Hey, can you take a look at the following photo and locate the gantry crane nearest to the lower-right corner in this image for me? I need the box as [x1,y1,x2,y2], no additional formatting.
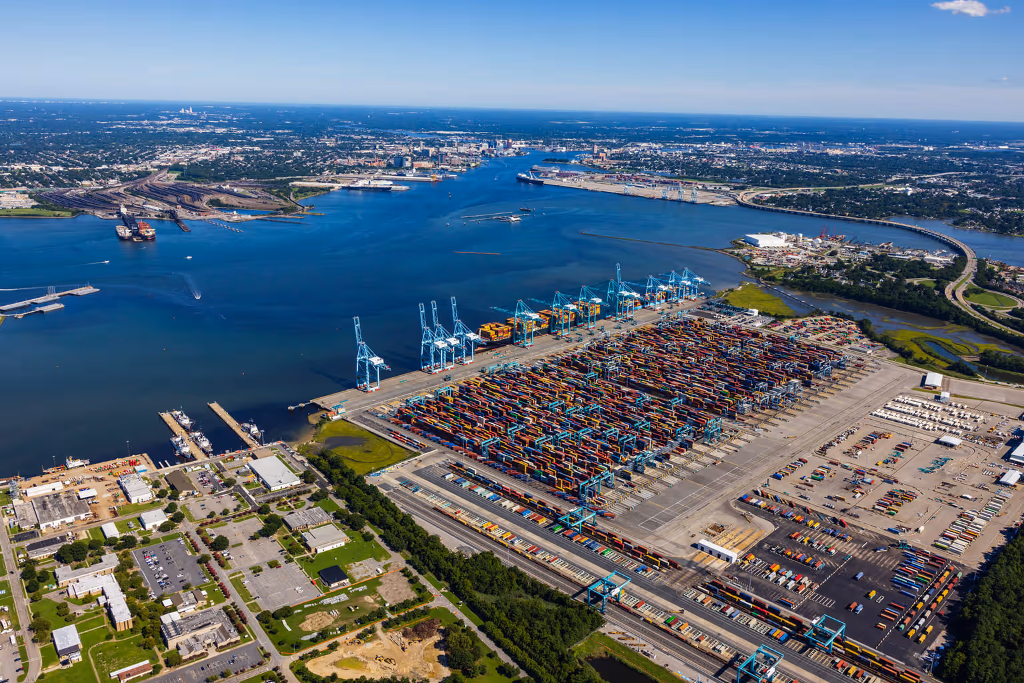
[802,613,847,653]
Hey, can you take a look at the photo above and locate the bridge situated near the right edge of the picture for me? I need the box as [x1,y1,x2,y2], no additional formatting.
[734,197,978,268]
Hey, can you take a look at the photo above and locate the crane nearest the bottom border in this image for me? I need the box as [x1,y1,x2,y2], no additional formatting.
[736,642,786,683]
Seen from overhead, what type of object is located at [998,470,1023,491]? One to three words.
shed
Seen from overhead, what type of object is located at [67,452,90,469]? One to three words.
ship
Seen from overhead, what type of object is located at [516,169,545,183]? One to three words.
ship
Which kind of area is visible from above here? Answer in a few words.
port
